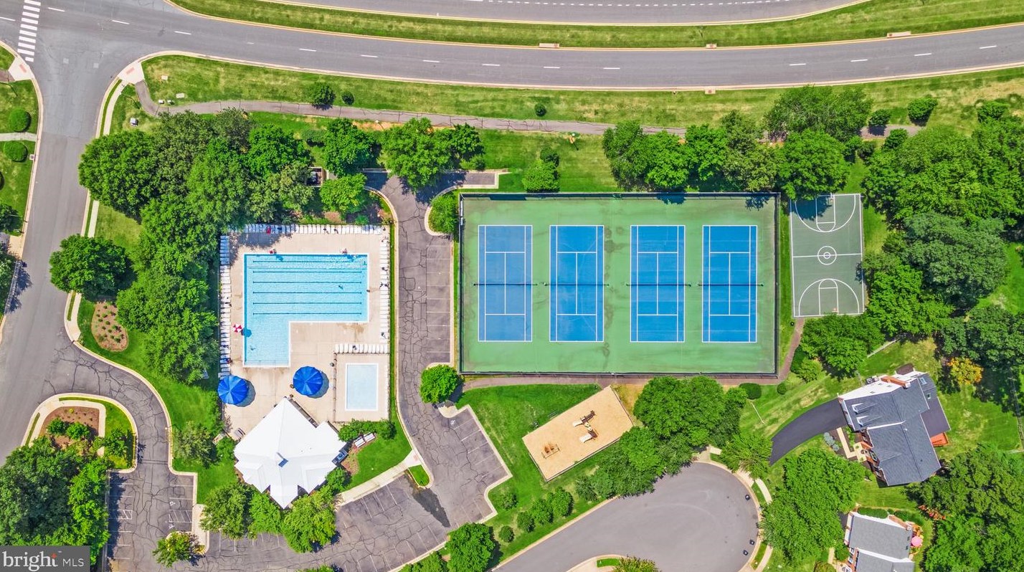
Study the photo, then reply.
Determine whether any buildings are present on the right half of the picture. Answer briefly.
Yes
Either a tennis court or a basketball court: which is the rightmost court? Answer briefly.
basketball court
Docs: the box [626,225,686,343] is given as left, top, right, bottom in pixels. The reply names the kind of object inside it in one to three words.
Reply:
tennis court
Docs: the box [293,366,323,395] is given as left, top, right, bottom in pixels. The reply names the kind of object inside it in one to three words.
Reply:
umbrella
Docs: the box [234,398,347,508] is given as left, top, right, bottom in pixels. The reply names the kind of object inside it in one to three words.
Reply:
building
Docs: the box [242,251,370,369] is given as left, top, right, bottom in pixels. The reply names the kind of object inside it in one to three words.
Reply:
swimming pool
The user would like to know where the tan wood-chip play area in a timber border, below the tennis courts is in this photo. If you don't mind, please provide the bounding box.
[520,384,631,482]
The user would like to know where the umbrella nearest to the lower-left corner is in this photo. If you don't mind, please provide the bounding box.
[219,375,249,404]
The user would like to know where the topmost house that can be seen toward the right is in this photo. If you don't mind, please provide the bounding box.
[835,363,954,485]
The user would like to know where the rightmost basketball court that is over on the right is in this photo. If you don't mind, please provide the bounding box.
[789,193,865,318]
